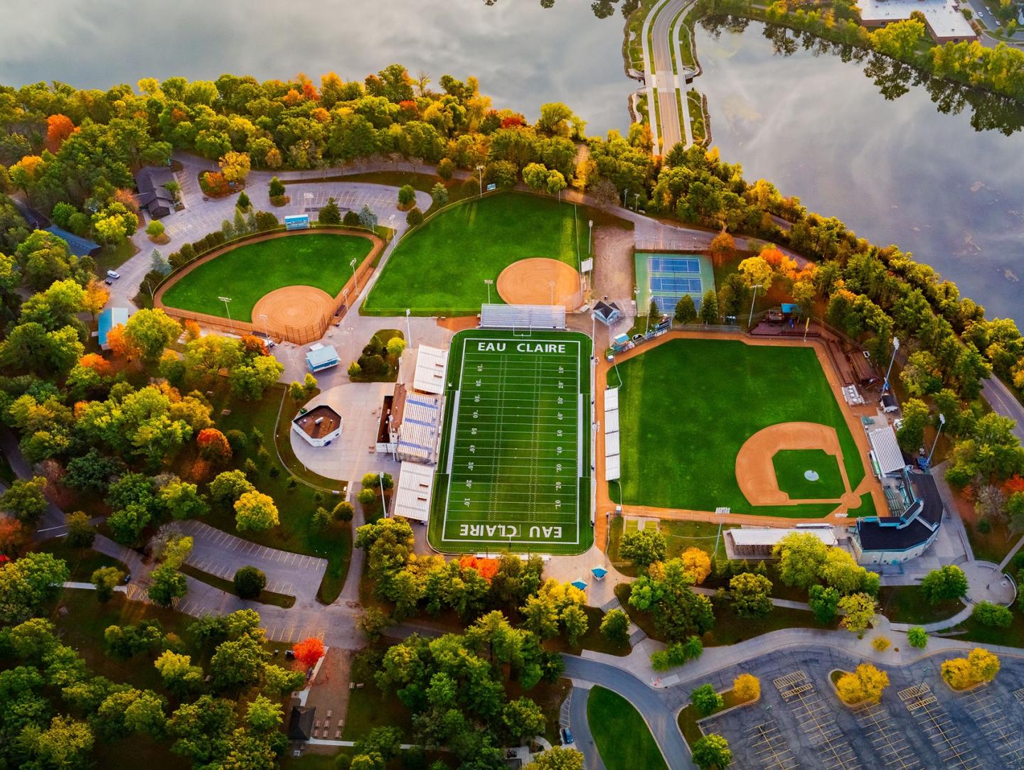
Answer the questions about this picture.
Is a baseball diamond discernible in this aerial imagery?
Yes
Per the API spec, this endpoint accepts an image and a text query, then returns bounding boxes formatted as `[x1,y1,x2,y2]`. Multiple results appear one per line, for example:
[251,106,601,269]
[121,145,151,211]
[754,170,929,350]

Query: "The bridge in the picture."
[640,68,692,94]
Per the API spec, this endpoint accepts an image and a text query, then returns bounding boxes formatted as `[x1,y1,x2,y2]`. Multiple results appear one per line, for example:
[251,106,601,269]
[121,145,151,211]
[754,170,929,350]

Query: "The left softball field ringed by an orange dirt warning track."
[155,227,385,346]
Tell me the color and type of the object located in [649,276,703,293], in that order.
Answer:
blue tennis court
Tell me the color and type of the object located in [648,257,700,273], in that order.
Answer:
blue tennis court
